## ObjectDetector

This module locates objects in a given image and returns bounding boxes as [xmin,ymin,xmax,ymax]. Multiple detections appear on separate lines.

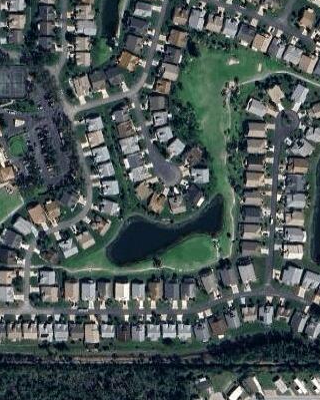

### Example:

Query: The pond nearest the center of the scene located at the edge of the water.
[106,195,221,266]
